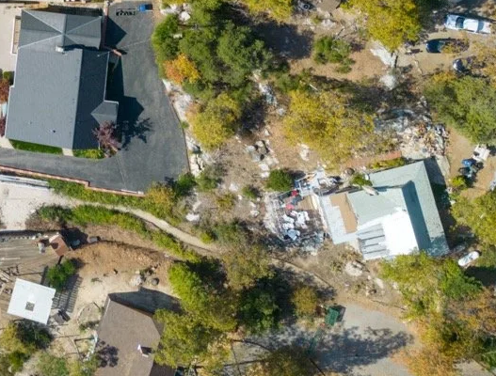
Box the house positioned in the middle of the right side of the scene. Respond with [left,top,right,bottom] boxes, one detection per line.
[309,155,449,260]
